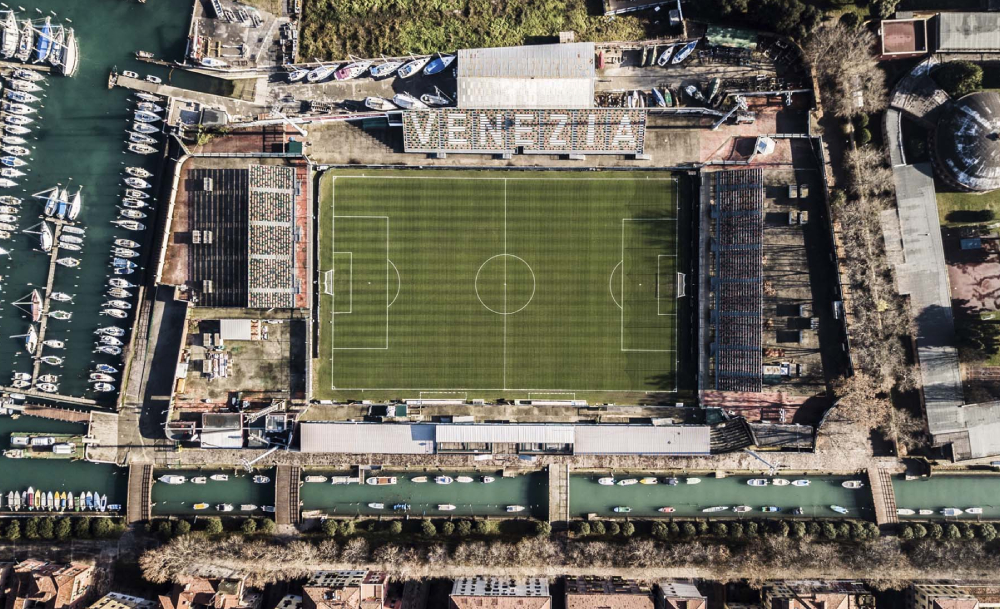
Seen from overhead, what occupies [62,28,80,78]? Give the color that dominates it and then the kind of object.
white boat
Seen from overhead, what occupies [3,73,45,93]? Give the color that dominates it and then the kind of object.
white boat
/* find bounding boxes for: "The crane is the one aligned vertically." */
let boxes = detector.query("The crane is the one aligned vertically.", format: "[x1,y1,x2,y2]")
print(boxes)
[184,8,202,61]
